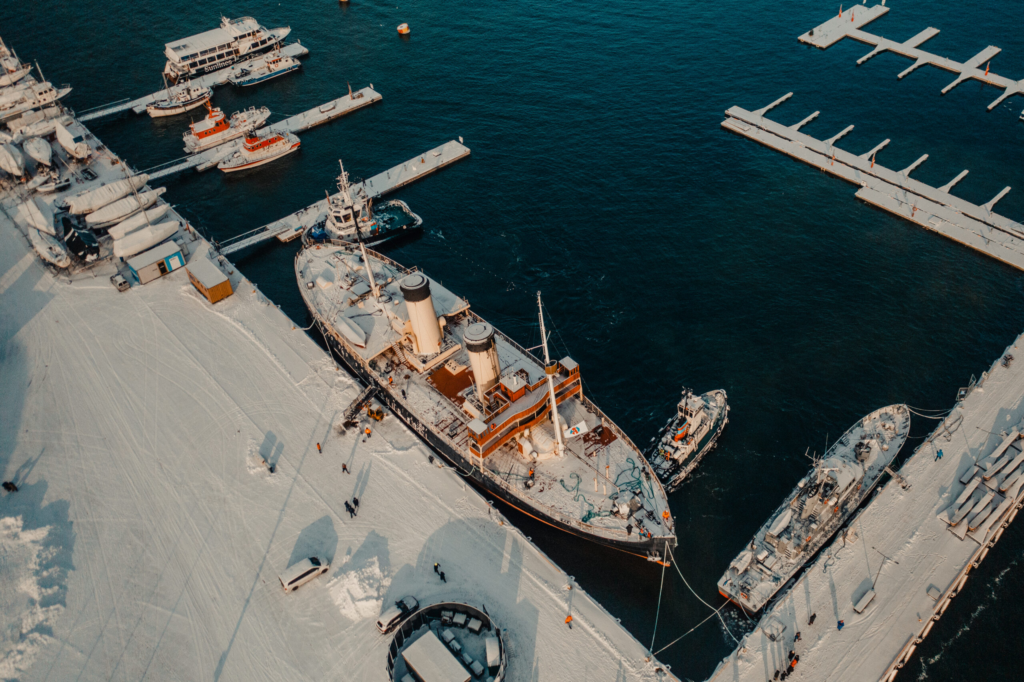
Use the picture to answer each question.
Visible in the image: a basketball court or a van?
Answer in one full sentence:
There is a van in the scene.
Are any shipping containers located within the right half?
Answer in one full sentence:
No, looking within the right half, there is no shipping container.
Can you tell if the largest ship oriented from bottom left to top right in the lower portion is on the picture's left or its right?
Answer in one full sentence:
The largest ship oriented from bottom left to top right in the lower portion appears in the right half of the scene.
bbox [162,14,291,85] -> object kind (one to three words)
ship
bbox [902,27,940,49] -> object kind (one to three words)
pier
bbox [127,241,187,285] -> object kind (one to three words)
shed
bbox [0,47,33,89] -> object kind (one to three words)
boat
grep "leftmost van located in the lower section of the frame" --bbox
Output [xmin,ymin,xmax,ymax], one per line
[279,554,331,592]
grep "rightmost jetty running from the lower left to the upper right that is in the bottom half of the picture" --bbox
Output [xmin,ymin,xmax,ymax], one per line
[702,329,1024,682]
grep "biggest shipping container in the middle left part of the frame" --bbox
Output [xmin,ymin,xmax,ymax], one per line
[185,258,233,304]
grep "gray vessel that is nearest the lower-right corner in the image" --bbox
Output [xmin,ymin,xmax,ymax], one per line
[713,402,914,624]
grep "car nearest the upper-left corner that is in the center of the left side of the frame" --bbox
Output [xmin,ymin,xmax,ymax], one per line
[109,273,128,290]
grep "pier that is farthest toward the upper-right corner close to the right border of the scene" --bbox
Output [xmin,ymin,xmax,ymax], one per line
[963,46,1001,69]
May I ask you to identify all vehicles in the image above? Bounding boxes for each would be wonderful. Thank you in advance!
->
[279,554,331,592]
[365,396,394,420]
[371,595,418,638]
[109,273,128,290]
